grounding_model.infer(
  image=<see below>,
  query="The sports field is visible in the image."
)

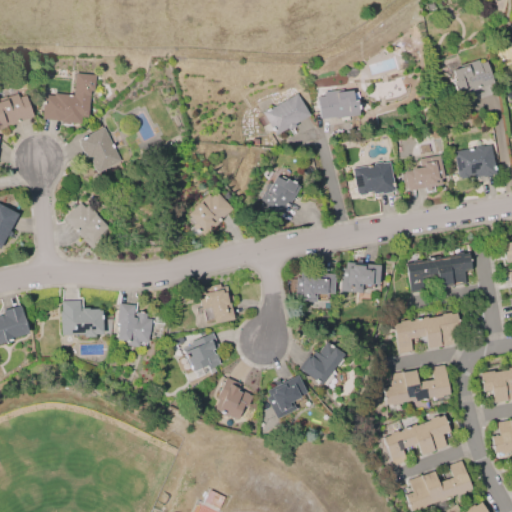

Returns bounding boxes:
[0,403,179,512]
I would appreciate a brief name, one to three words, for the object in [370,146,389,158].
swimming pool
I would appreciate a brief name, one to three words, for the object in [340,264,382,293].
house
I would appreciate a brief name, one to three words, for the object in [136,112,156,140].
swimming pool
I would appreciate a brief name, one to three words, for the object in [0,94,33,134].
house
